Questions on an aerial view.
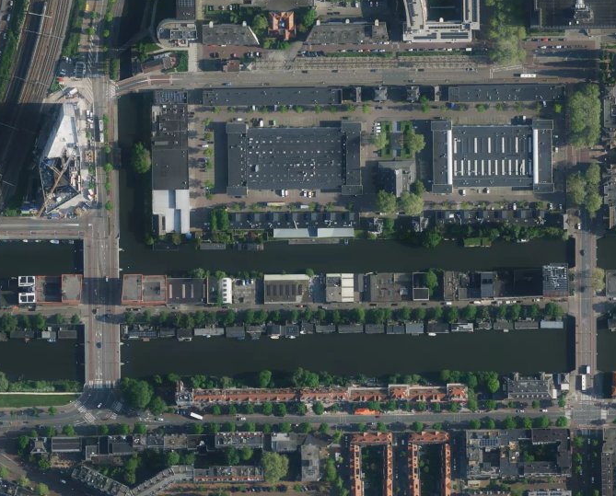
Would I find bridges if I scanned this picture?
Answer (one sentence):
Yes, the picture does show a bridge.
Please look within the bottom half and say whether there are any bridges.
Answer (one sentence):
Yes, within the bottom half there is a bridge.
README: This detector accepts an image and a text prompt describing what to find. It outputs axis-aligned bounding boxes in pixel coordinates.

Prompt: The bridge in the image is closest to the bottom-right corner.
[575,321,598,375]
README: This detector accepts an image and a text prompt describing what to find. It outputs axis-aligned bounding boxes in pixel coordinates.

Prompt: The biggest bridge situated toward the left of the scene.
[83,327,124,389]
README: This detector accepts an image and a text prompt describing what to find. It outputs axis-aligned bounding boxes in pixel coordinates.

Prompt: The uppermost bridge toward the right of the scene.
[575,231,598,268]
